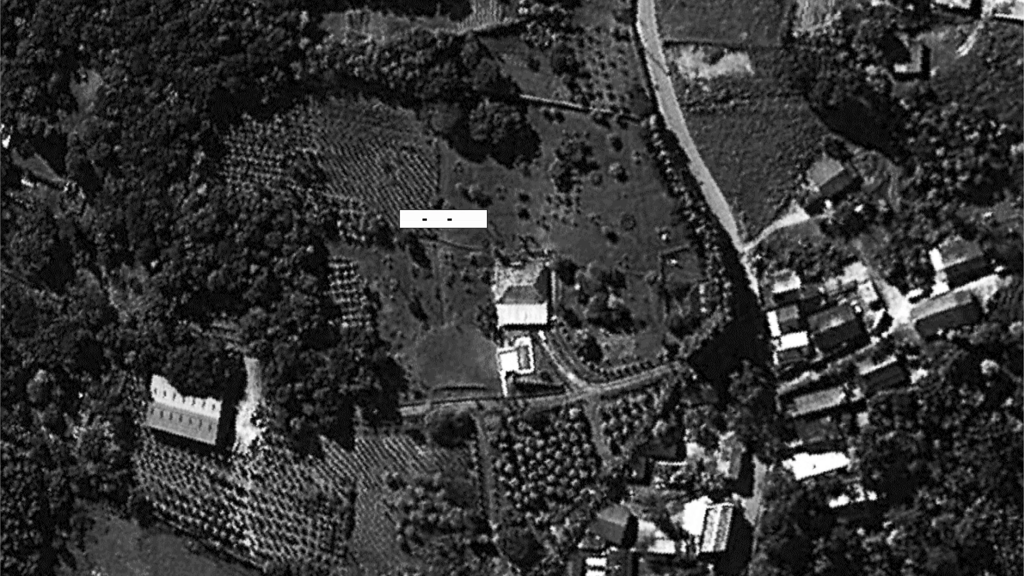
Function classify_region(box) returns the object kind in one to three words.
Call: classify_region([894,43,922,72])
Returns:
building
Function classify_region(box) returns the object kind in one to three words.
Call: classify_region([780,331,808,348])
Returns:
building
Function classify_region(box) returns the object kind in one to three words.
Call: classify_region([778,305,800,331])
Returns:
house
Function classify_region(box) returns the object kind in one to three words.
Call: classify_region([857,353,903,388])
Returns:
house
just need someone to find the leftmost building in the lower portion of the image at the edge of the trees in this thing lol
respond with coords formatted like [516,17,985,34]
[146,375,222,445]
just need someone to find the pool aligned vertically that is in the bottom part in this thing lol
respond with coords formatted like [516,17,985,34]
[516,337,534,374]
